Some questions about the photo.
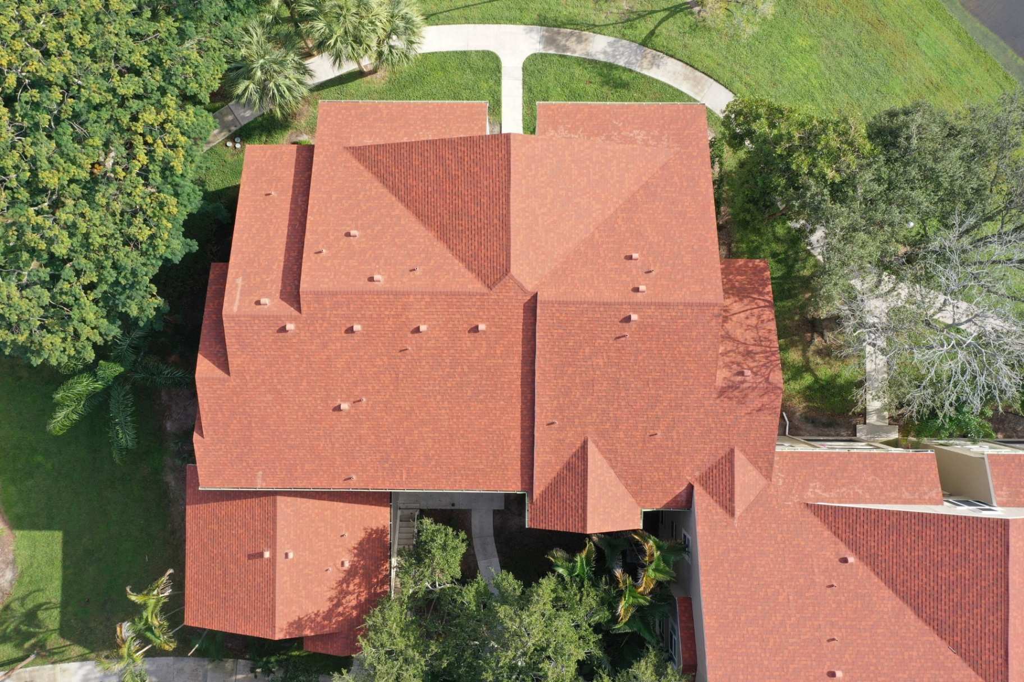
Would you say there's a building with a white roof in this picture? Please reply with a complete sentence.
No, I can't see a single building with a white roof in this photo.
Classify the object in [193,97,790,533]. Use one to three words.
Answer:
building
